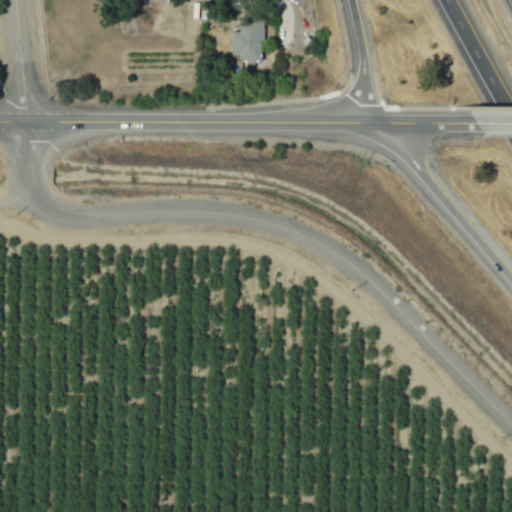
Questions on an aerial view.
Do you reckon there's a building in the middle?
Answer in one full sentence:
No, there is no building in the middle.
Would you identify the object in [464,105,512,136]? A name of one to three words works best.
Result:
bridge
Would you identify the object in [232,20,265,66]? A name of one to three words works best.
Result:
house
